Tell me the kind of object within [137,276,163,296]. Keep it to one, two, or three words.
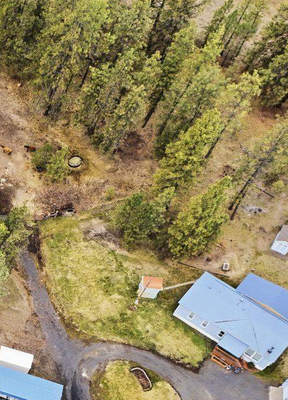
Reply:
building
